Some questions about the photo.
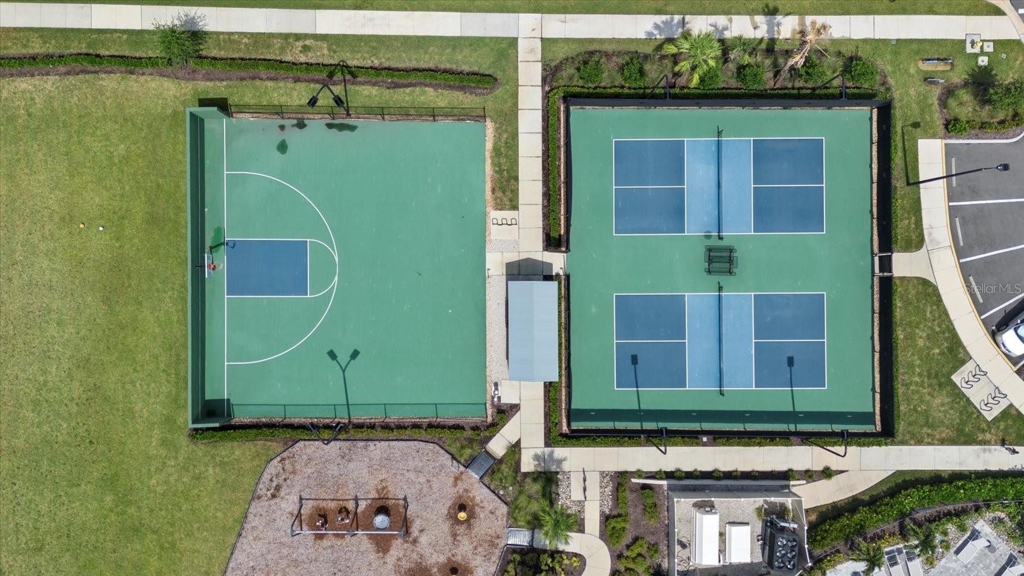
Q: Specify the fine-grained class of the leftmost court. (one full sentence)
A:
From above, the leftmost court can be identified as a basketball court.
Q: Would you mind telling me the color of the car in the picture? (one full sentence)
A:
The car looks white in the image.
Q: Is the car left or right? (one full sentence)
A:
The car is on the right side of the image.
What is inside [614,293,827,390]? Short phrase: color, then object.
blue sports court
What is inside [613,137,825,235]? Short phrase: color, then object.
blue sports court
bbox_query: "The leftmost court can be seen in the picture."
[204,118,486,418]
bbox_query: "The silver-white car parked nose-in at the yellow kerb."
[994,309,1024,353]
